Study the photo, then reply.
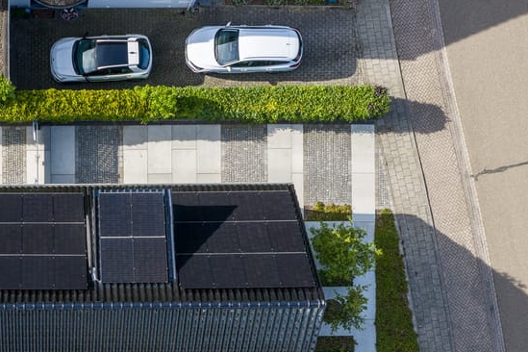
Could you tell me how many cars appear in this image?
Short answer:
2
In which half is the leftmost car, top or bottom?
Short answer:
top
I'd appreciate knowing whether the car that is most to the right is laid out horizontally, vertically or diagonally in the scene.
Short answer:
horizontally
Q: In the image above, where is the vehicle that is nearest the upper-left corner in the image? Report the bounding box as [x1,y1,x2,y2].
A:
[50,28,151,85]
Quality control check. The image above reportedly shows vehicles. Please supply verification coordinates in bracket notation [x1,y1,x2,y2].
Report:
[185,18,302,76]
[50,28,151,85]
